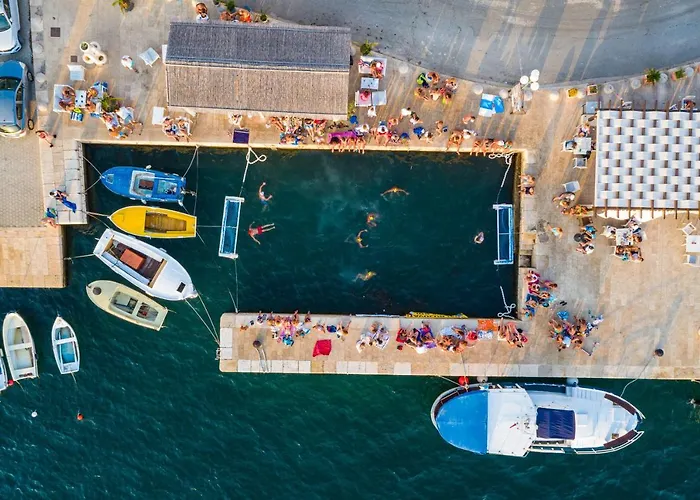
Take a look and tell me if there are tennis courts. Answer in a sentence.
No, there isn't any tennis court down there.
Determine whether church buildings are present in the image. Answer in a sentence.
No, I find no church building anywhere in the image.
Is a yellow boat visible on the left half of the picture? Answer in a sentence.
Yes, a yellow boat appears on the left half of the picture.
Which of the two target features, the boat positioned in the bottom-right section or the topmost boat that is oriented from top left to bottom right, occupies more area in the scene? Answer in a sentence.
The boat positioned in the bottom-right section covers a greater area than the topmost boat that is oriented from top left to bottom right.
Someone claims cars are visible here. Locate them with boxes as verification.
[0,55,31,136]
[0,0,27,55]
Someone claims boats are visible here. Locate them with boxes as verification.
[105,205,200,239]
[97,163,198,205]
[1,313,42,381]
[81,282,170,330]
[50,316,82,375]
[428,382,649,461]
[0,338,11,388]
[93,229,196,301]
